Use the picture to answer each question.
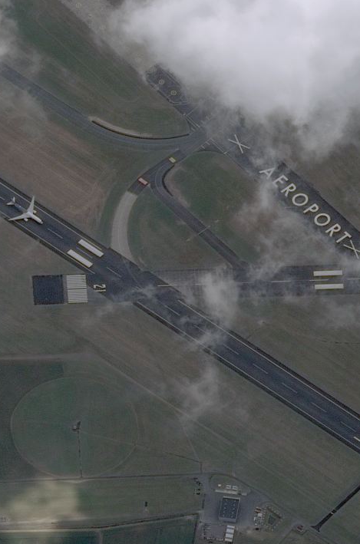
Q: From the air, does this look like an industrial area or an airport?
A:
airport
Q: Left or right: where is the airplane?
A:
left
